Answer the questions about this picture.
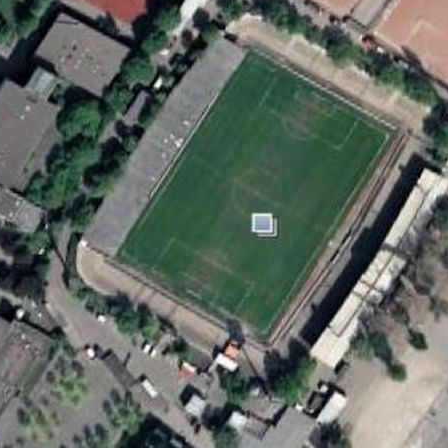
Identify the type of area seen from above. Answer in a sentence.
The picture captures a sports ground.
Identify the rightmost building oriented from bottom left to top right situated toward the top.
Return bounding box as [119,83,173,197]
[174,0,209,35]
